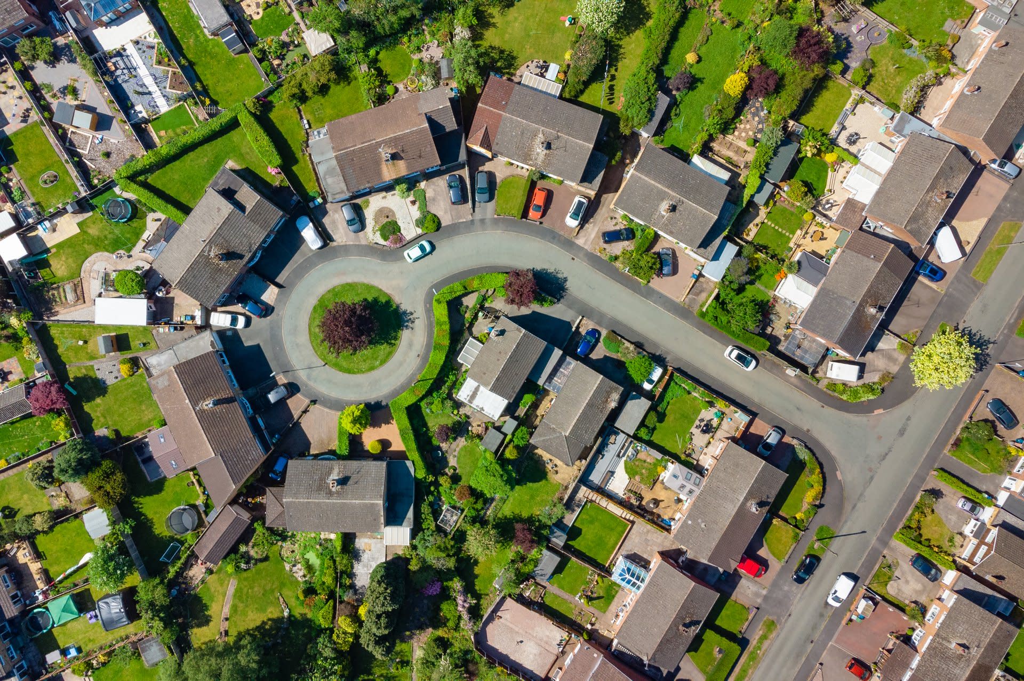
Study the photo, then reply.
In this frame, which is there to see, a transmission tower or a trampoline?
trampoline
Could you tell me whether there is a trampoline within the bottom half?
Yes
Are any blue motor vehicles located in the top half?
Yes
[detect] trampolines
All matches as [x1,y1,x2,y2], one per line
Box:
[161,504,197,539]
[96,192,133,225]
[17,608,51,641]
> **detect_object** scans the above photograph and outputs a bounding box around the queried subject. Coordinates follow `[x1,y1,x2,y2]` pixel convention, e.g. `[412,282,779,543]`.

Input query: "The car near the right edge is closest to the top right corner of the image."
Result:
[986,159,1022,179]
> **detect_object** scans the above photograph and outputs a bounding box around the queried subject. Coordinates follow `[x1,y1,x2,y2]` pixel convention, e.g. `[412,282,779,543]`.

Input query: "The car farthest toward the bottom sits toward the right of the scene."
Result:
[845,655,871,681]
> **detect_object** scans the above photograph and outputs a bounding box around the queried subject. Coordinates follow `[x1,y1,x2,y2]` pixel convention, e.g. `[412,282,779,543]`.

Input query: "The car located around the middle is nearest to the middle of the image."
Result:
[576,327,599,358]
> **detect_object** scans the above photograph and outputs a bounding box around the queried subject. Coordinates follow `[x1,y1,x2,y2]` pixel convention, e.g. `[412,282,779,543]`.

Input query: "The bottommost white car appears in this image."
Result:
[828,571,856,607]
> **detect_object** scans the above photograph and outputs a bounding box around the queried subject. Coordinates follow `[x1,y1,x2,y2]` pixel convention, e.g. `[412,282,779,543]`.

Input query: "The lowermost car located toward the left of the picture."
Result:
[269,453,289,482]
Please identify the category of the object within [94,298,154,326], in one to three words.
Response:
building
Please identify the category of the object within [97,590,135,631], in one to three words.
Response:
gazebo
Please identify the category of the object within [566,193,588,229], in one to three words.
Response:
car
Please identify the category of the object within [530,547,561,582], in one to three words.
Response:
shed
